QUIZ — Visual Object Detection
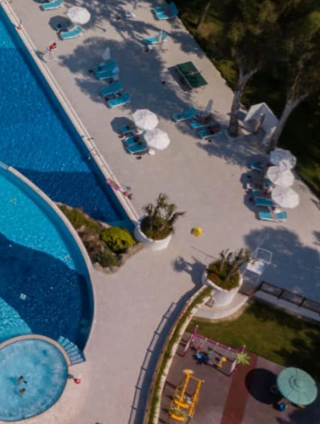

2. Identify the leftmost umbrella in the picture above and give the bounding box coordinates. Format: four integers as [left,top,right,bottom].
[66,9,90,28]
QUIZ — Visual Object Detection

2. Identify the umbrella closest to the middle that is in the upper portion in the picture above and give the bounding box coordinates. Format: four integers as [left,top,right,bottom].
[143,132,169,160]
